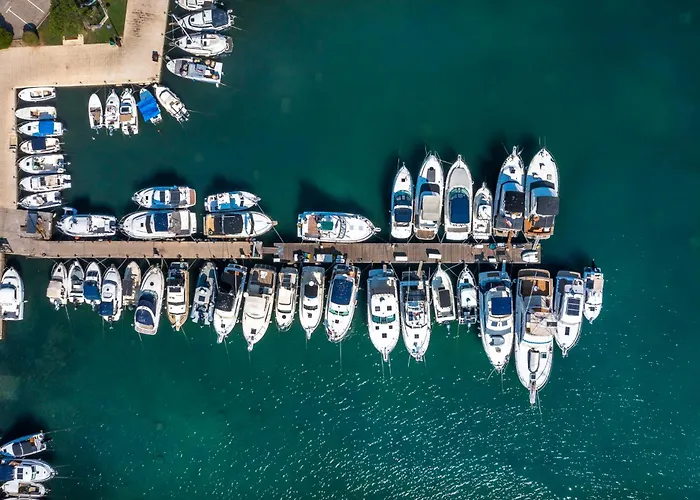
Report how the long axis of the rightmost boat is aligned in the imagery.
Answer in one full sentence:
Seen from above, the rightmost boat lies vertically.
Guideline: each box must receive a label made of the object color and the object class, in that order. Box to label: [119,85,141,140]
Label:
white boat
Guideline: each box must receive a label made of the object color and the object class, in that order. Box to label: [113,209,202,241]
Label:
white boat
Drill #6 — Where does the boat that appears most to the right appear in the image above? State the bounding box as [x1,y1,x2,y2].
[582,260,605,322]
